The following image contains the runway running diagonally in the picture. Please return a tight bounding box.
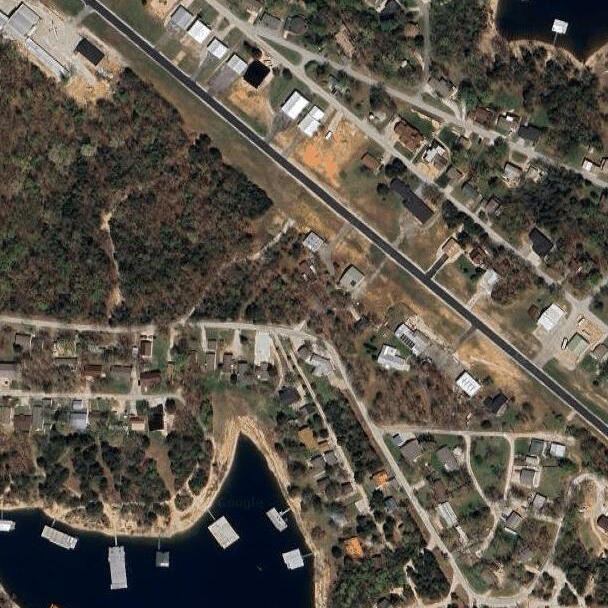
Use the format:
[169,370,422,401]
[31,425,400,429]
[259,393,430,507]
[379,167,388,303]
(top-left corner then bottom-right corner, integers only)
[83,0,608,436]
